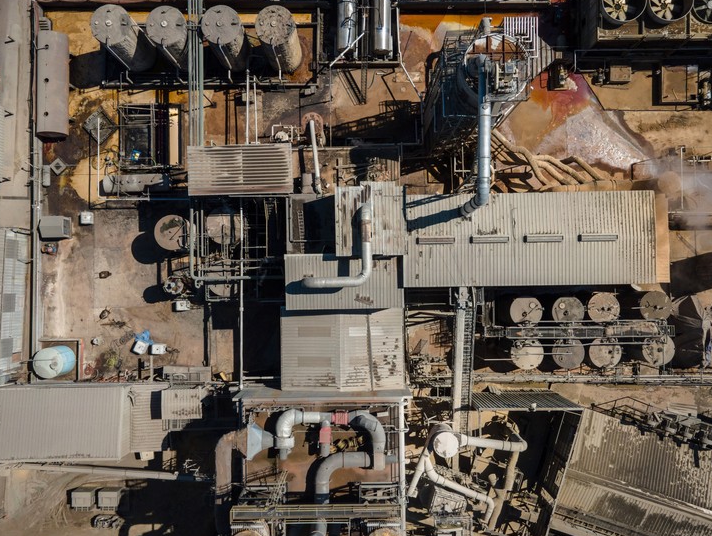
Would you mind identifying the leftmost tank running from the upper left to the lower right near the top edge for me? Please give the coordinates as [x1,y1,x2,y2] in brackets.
[90,2,179,77]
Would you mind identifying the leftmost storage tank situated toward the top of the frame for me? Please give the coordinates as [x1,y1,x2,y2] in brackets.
[37,27,78,134]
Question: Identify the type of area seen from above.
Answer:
industrial area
